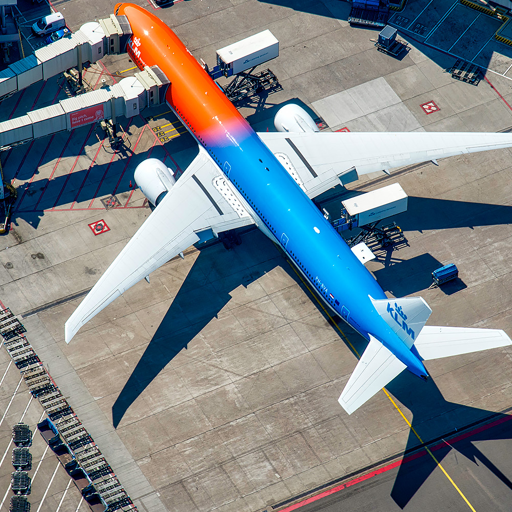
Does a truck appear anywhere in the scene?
Yes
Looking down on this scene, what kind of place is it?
airport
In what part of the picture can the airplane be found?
center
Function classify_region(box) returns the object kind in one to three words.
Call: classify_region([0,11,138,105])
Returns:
jet bridge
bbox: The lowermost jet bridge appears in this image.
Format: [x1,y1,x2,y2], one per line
[0,64,172,156]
